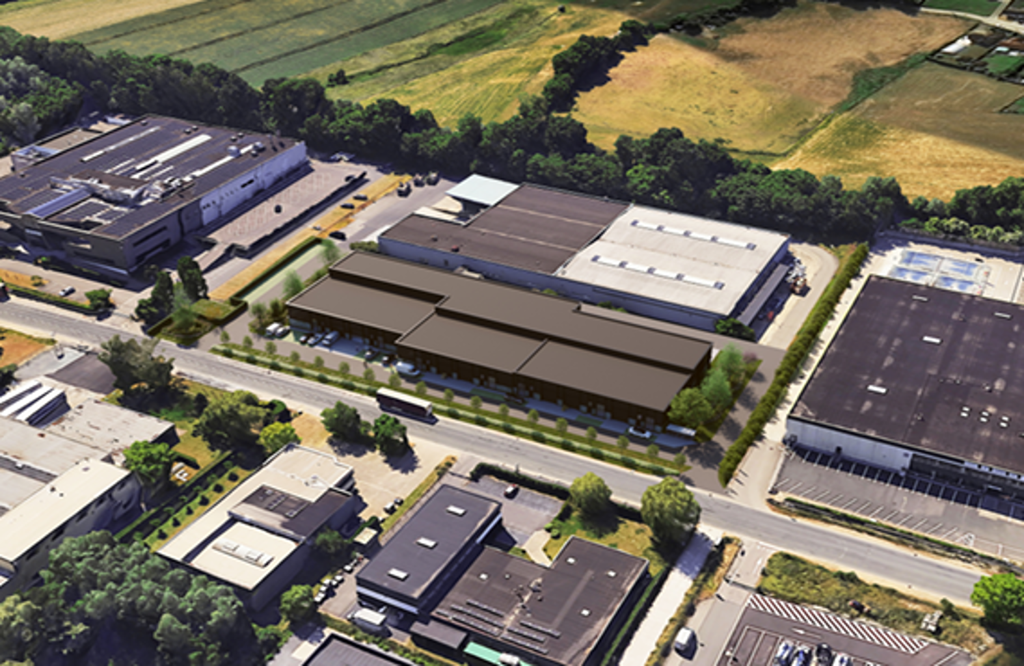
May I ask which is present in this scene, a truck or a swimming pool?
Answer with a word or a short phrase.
truck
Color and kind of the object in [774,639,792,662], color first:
white car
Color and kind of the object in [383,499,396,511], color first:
white vehicle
